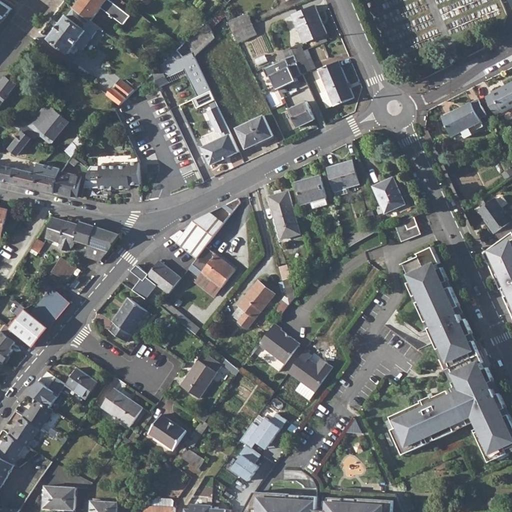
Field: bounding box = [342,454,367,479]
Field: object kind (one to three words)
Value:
playground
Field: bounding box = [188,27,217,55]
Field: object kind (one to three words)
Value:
barn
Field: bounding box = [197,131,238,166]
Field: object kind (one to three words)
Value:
house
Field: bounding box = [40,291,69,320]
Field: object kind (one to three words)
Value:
building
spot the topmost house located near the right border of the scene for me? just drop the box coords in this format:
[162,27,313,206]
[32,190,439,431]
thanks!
[481,78,512,116]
